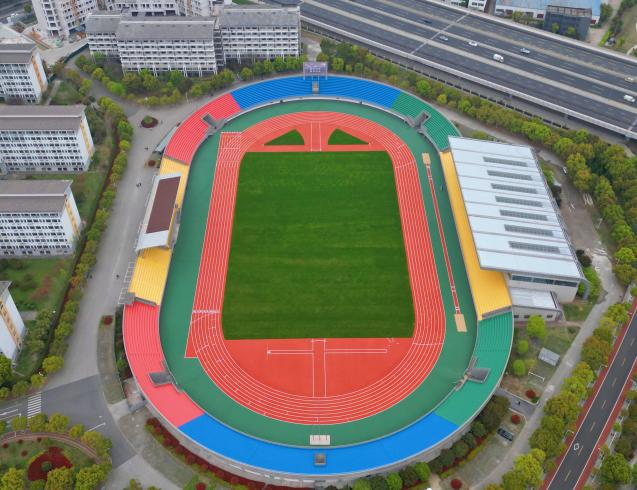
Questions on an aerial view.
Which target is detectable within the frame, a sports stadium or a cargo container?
sports stadium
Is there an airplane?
No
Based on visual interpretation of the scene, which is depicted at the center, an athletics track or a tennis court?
athletics track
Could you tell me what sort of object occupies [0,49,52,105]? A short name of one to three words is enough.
building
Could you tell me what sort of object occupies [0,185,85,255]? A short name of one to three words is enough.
building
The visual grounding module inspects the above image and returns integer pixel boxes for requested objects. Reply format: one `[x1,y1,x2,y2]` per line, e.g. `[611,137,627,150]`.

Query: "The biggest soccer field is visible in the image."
[220,128,417,340]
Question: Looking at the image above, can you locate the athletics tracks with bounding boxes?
[184,111,446,425]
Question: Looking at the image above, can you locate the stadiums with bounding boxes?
[118,76,514,487]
